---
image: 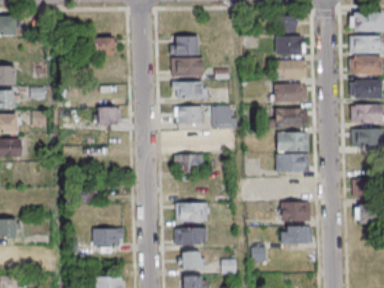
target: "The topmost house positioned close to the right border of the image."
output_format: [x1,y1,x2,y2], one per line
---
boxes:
[350,14,384,32]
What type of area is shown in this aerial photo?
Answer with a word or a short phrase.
residential area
